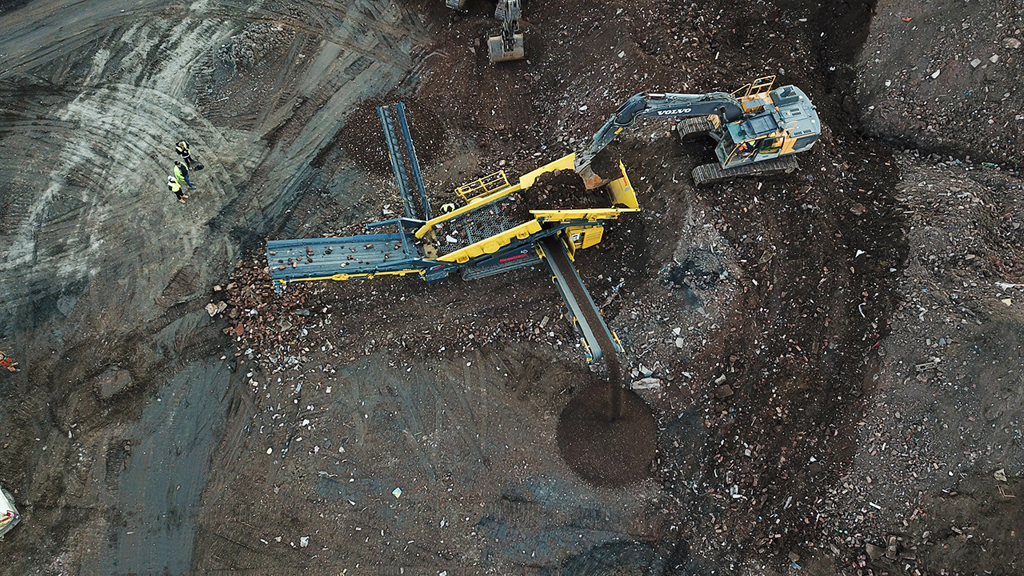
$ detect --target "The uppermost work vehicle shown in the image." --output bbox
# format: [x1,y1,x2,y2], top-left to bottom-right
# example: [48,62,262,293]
[486,0,523,68]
